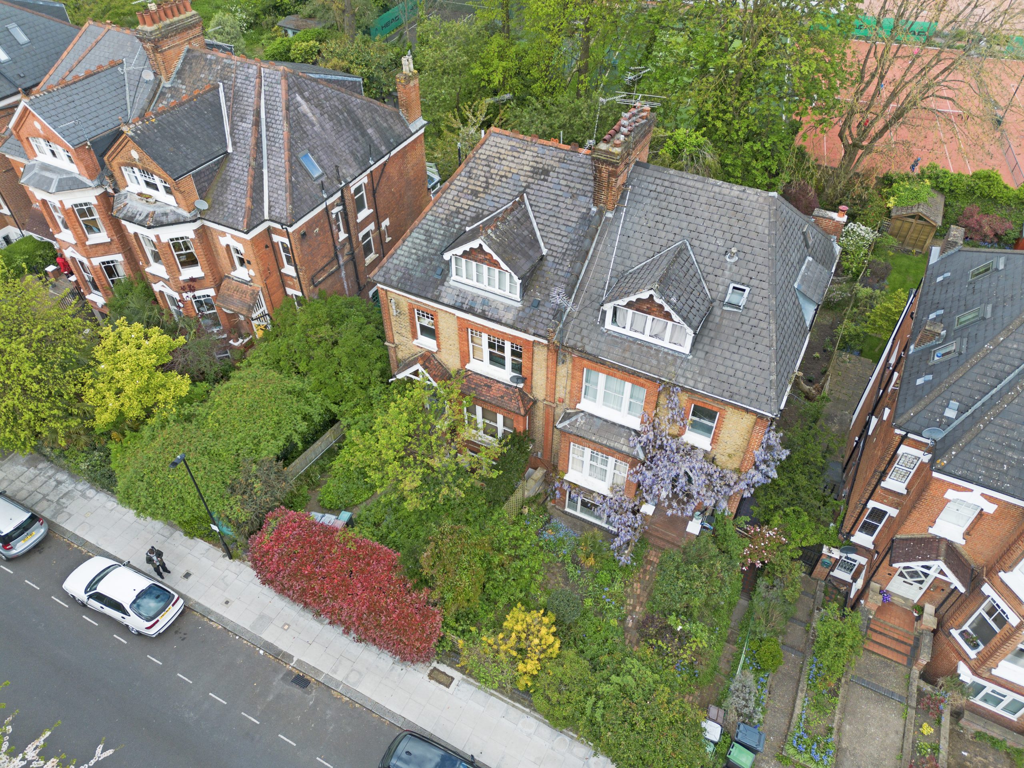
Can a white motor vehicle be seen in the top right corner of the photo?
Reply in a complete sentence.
No, no white motor vehicle appears in the top right corner of the photo.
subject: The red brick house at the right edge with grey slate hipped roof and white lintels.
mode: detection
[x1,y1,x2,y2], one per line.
[807,225,1024,705]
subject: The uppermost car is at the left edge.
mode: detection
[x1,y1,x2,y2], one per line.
[0,495,52,561]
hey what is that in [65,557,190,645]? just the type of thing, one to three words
car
